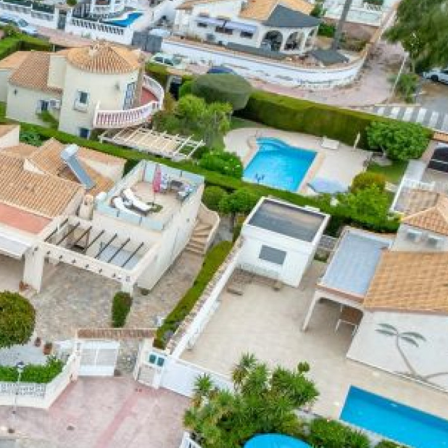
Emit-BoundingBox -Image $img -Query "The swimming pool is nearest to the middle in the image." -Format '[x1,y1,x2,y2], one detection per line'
[234,133,325,194]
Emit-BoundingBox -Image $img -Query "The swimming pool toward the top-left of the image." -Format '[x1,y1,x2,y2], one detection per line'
[103,12,139,29]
